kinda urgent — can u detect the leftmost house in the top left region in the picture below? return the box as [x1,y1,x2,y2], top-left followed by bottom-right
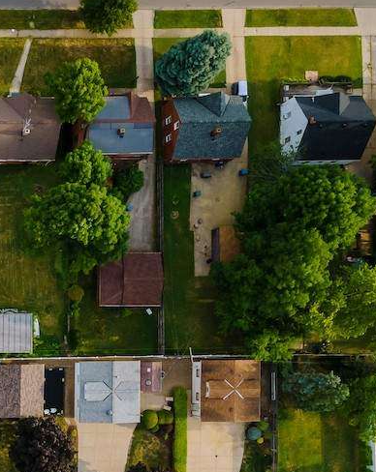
[0,91,61,163]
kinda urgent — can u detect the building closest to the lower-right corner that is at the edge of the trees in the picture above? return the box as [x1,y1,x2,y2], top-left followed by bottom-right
[193,361,261,422]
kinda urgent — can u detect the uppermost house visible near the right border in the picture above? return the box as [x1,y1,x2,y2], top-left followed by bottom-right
[279,92,376,166]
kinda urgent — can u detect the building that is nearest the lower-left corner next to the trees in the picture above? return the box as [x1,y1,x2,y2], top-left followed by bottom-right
[0,363,44,419]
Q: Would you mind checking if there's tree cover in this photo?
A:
Yes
